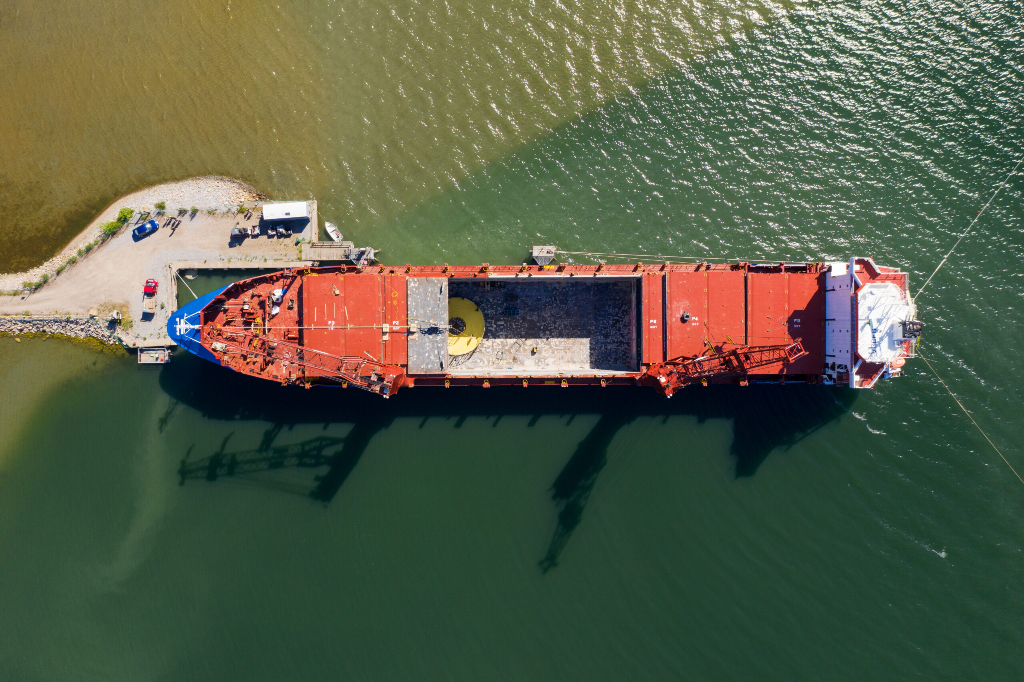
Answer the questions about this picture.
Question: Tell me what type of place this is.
port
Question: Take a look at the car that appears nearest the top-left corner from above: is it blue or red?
blue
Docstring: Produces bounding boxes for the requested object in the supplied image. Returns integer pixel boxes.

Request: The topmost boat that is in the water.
[327,222,345,241]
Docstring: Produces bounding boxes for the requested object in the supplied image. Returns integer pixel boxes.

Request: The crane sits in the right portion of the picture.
[639,334,812,399]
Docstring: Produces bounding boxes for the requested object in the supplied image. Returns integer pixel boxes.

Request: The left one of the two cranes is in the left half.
[209,325,404,399]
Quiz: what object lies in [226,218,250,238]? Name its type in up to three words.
work vehicle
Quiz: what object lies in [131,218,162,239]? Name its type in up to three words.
car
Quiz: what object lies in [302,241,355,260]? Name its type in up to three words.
pier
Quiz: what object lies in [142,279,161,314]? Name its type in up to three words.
vehicle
